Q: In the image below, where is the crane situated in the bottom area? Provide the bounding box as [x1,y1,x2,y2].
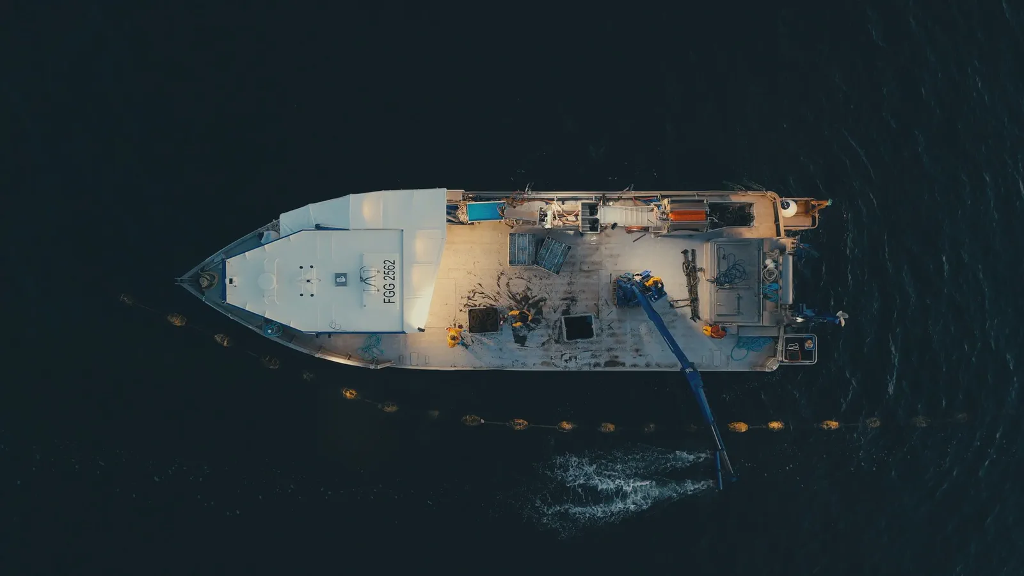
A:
[610,270,738,494]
